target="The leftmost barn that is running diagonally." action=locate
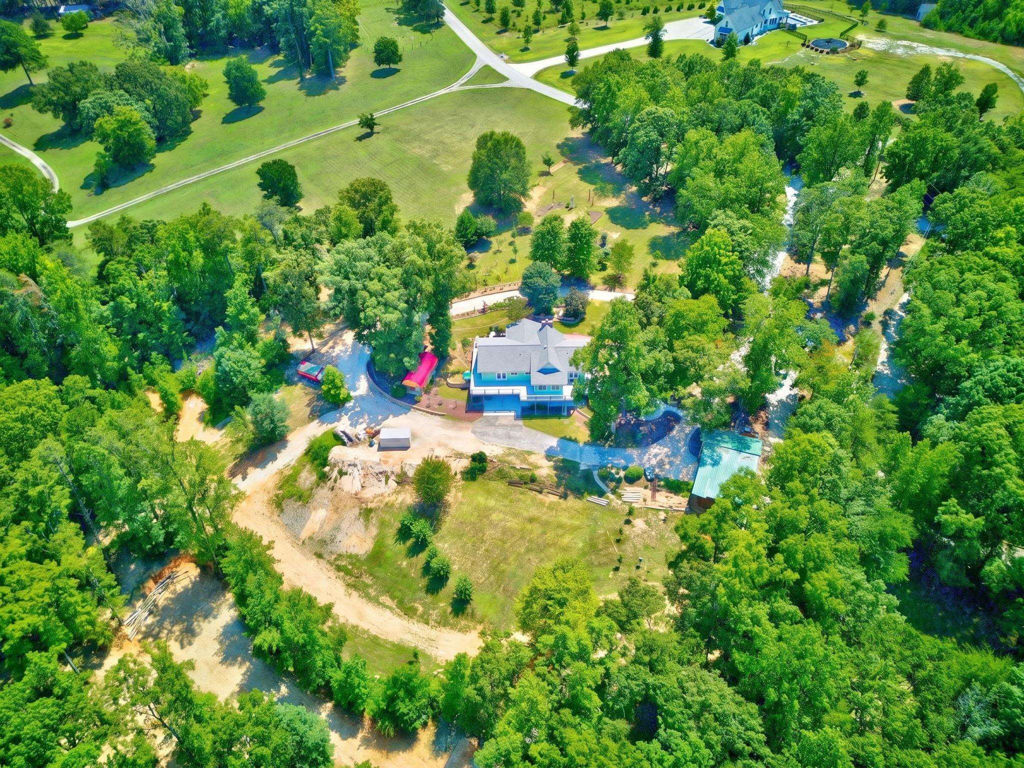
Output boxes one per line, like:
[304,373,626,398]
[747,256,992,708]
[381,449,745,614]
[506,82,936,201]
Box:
[402,347,442,396]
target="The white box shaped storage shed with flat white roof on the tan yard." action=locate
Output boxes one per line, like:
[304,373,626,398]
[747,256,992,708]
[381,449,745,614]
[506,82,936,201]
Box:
[378,428,412,448]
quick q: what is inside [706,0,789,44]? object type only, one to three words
house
